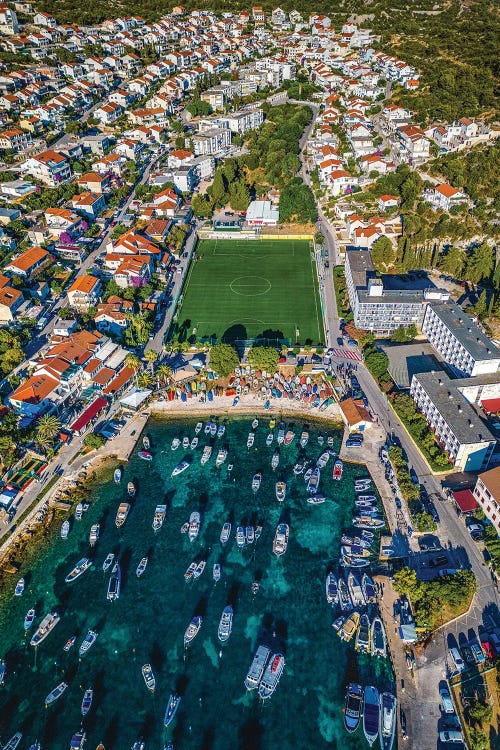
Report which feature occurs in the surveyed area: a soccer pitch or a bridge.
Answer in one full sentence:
The image shows a soccer pitch.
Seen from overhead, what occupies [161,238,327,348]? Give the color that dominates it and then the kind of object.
green soccer field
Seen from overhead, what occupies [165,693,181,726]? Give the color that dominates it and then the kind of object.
blue boat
